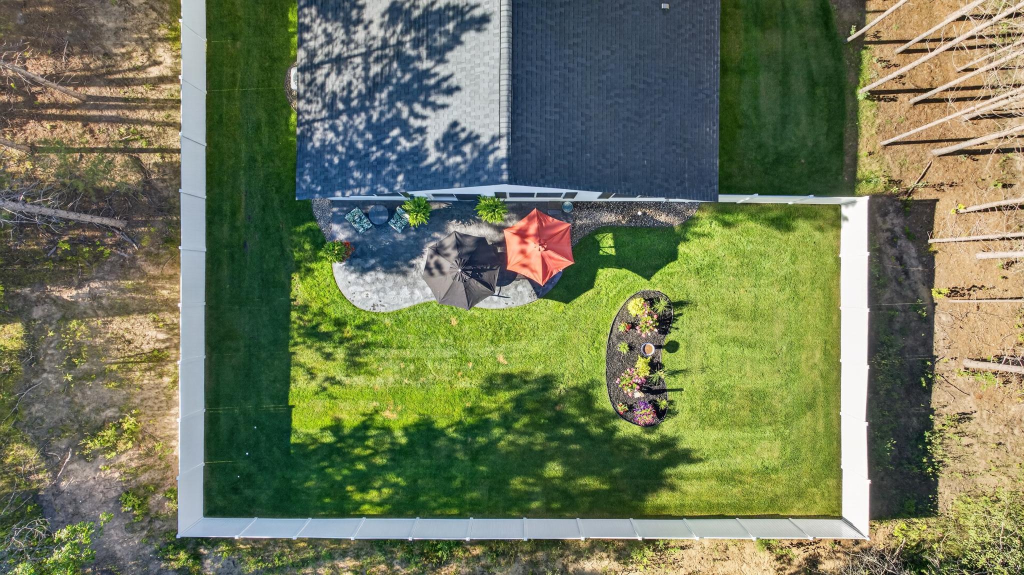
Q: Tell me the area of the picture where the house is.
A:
top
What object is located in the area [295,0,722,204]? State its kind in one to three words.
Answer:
house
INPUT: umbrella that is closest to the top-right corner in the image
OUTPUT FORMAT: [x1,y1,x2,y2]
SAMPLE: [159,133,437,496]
[504,208,574,286]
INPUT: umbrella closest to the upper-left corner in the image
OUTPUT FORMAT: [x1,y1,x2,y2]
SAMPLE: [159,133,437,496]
[423,231,500,309]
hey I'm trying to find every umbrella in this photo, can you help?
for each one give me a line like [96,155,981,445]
[423,231,500,309]
[504,208,574,286]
